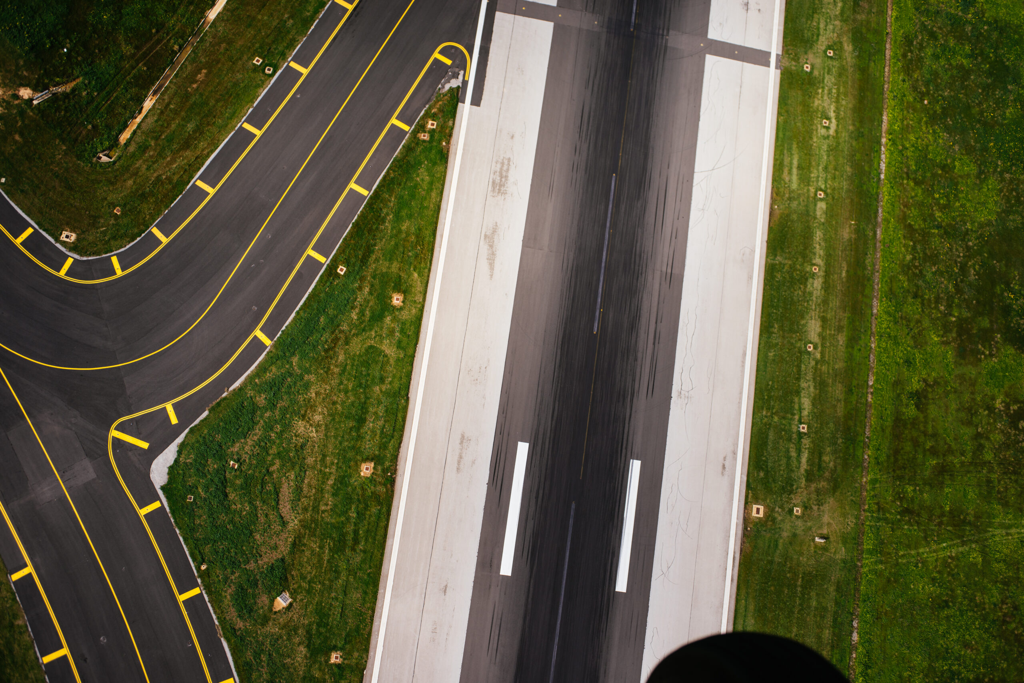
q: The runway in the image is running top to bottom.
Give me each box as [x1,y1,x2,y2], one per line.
[364,0,787,683]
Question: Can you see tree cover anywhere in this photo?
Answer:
No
